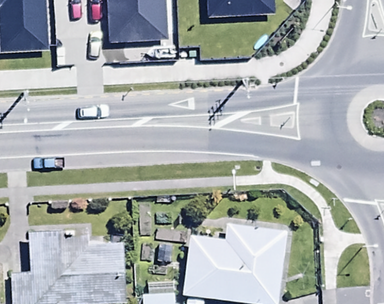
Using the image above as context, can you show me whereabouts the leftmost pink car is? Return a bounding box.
[70,0,82,20]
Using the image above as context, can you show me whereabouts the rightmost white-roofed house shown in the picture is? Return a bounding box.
[184,224,288,304]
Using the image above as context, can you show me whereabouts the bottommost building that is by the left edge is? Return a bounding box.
[11,231,126,304]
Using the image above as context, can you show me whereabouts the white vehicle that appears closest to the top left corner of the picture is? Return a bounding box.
[89,31,102,59]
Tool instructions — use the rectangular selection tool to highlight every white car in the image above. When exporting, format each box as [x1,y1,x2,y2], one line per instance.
[89,31,102,59]
[76,104,110,118]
